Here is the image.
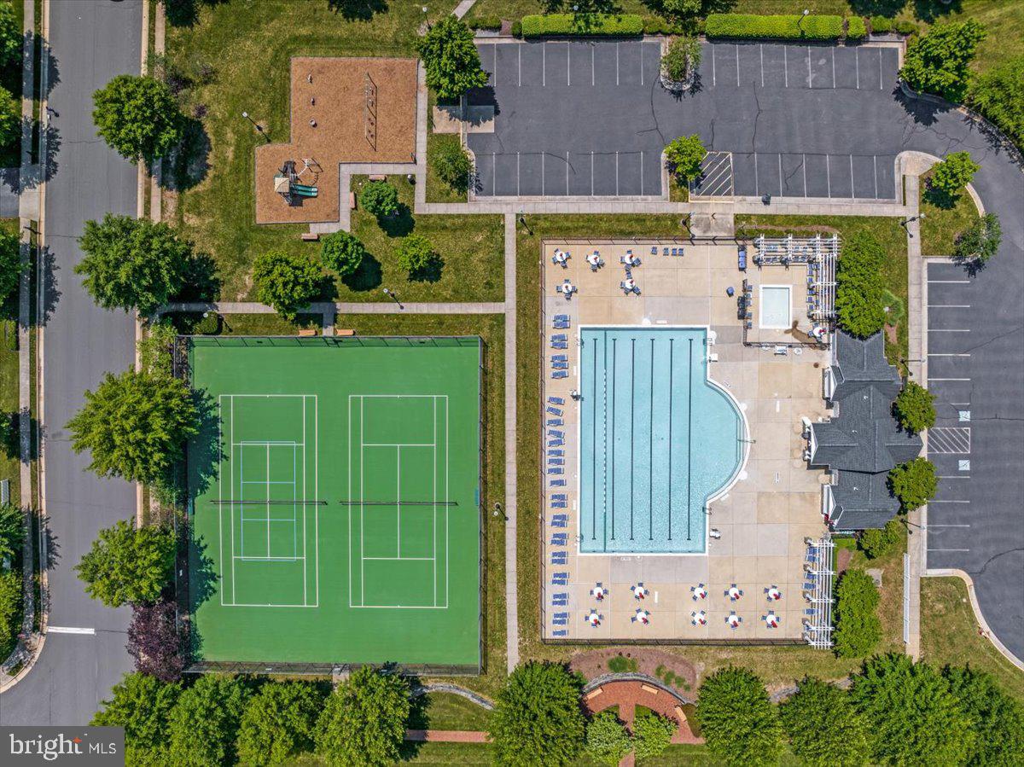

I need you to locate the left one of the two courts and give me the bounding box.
[189,338,333,664]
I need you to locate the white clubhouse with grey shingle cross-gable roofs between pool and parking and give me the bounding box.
[803,328,928,530]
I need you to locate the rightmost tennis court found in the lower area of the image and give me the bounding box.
[333,338,481,664]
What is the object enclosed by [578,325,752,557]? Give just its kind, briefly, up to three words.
swimming pool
